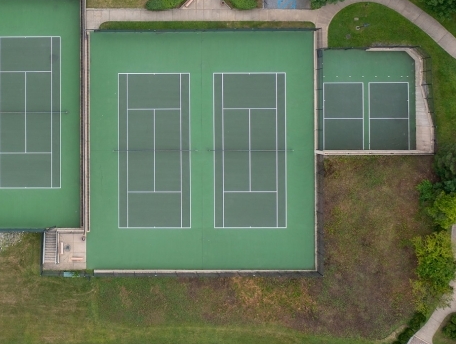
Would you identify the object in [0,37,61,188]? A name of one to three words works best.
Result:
tennis court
